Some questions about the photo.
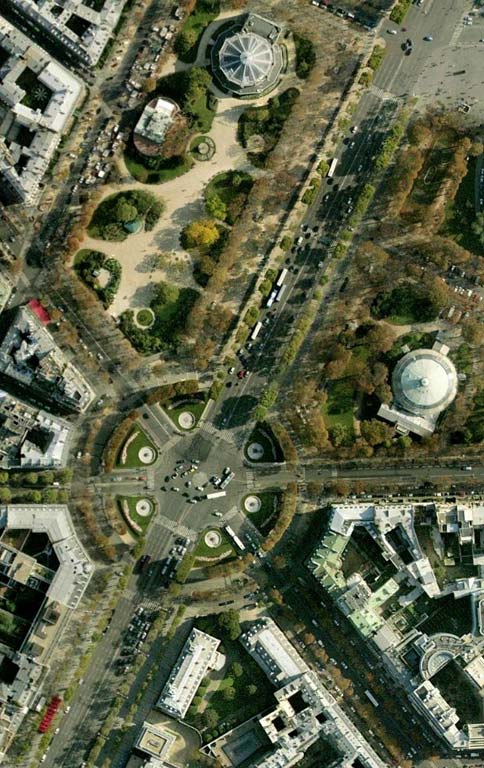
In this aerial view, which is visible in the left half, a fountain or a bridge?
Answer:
fountain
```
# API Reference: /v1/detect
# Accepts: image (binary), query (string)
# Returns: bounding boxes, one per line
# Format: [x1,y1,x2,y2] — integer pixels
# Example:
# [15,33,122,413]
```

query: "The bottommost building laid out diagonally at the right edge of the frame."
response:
[414,680,469,750]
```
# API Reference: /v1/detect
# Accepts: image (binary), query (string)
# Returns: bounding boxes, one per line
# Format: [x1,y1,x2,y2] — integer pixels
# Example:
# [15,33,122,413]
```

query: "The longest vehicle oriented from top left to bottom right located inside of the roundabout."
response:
[226,525,244,550]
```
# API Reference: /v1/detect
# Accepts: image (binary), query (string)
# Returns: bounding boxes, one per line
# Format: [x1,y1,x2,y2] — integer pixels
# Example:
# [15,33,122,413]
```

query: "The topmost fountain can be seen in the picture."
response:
[177,411,195,429]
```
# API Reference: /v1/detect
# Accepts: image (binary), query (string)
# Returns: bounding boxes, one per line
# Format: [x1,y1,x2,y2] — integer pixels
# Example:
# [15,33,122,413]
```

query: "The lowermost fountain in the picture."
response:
[203,530,221,548]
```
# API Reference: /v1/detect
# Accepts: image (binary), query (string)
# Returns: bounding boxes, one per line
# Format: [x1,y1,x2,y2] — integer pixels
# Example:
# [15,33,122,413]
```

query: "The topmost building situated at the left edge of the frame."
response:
[7,0,129,68]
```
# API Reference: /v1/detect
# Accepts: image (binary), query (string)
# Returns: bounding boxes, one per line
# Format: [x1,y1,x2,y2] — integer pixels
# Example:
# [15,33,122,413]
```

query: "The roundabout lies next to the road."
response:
[104,384,297,578]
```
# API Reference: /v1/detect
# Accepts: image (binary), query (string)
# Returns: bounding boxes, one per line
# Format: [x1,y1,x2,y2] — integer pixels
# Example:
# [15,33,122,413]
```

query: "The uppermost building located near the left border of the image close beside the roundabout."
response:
[0,298,96,412]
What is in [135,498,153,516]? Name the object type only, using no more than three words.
fountain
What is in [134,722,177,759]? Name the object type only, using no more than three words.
house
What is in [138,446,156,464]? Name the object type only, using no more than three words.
fountain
